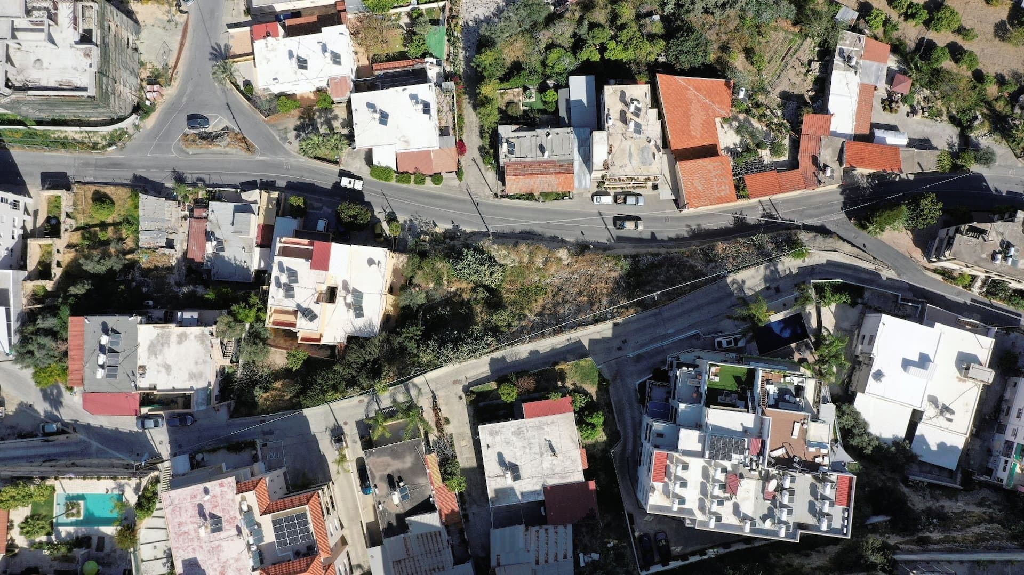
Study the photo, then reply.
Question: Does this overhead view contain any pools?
Yes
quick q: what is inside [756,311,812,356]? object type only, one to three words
swimming pool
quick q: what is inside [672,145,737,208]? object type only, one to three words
house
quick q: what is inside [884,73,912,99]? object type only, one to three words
gazebo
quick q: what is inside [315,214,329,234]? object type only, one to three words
vehicle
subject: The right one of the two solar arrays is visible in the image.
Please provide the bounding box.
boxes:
[708,433,746,464]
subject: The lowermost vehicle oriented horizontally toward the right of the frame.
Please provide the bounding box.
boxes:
[715,336,745,349]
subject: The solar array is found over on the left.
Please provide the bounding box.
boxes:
[272,512,314,549]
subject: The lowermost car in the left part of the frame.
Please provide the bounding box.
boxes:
[358,465,372,494]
